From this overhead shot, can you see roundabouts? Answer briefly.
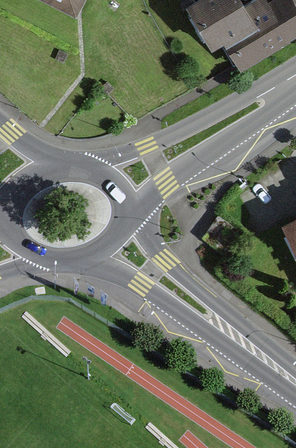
Yes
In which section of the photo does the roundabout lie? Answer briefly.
left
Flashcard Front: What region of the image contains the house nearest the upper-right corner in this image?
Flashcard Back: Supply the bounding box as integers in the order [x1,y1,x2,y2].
[183,0,296,72]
